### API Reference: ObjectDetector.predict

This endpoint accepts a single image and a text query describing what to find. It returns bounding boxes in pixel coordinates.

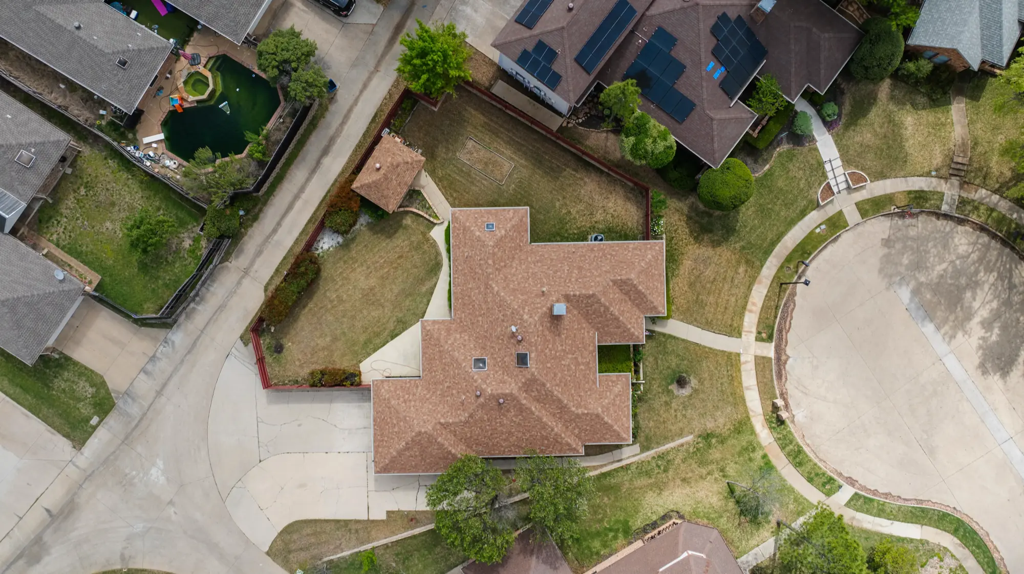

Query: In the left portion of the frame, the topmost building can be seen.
[169,0,286,51]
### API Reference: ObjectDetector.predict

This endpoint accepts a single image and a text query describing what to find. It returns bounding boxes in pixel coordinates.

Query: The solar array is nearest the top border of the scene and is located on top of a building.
[515,0,555,28]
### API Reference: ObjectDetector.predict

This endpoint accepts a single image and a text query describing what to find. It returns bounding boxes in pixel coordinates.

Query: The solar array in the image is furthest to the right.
[709,11,768,101]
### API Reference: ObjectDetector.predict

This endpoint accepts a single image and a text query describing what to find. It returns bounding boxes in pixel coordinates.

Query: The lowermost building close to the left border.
[0,219,102,365]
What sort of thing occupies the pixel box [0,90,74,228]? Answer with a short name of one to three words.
house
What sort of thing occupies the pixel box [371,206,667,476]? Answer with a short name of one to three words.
house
